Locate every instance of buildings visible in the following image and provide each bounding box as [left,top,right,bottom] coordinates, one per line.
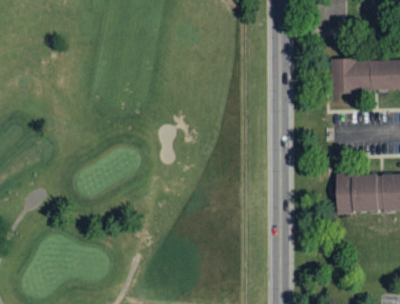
[331,60,400,95]
[336,174,400,215]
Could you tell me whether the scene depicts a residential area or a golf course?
golf course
